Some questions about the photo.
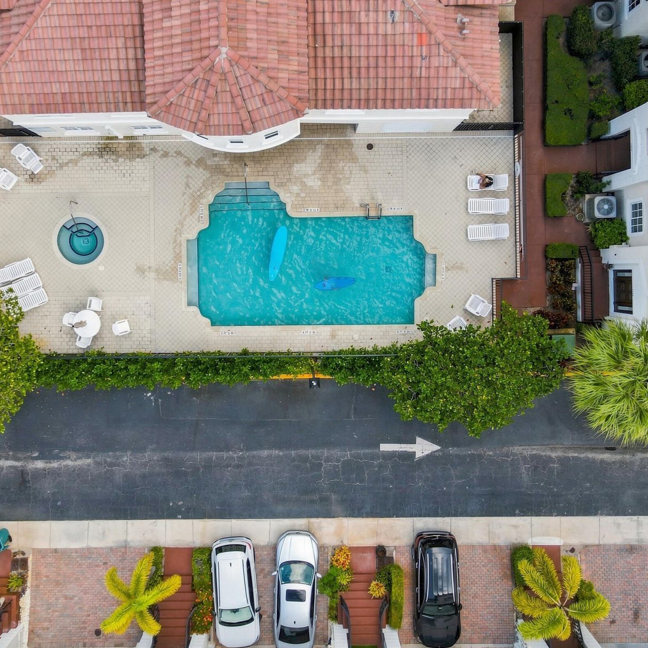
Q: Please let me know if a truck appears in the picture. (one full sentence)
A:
No, the frame has no truck in it.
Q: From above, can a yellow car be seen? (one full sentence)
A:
No, no yellow car is visible in the scene.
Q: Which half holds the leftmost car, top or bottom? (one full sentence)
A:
Seen from above, the leftmost car lies in the bottom half of the view.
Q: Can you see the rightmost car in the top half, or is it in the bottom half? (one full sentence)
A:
You can find the rightmost car in the bottom half.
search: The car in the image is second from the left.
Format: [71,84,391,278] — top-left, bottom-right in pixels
[270,531,323,648]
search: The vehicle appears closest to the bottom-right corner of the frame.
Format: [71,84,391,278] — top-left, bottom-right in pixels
[410,531,465,644]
